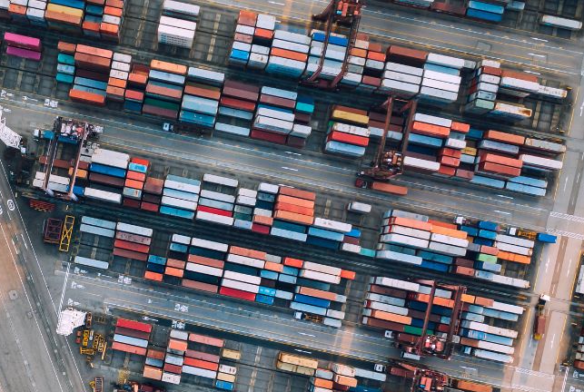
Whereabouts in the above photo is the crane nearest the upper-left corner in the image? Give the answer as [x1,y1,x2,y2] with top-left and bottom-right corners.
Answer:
[39,114,97,202]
